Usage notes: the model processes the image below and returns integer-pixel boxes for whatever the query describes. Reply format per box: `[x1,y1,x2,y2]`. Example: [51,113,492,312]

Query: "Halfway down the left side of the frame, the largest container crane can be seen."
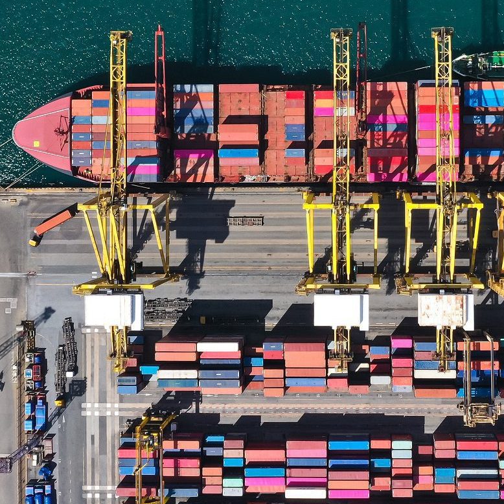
[72,20,182,386]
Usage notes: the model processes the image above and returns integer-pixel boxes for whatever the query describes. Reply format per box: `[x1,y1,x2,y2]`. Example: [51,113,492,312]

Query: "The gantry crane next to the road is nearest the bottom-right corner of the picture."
[456,325,500,433]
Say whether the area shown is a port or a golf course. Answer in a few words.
port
